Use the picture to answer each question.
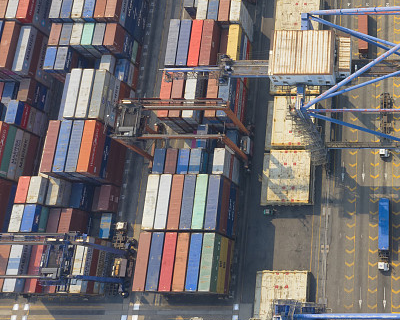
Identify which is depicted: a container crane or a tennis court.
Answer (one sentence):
This aerial view contains a container crane.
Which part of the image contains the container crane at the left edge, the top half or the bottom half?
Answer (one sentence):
You can find the container crane at the left edge in the bottom half.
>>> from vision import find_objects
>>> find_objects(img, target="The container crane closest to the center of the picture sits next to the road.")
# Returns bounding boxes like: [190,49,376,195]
[110,98,255,171]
